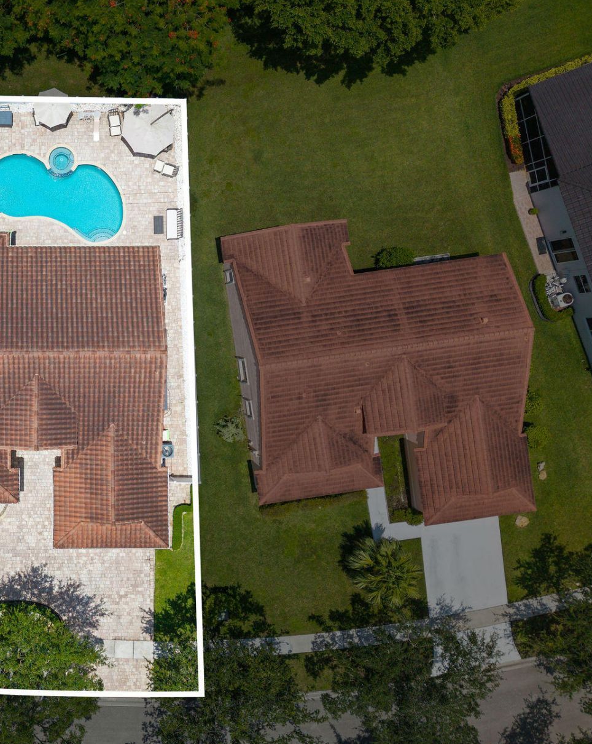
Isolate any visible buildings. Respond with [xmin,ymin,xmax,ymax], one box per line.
[0,231,172,551]
[217,220,538,527]
[528,62,592,378]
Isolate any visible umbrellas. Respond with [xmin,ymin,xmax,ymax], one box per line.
[121,103,180,159]
[30,86,75,131]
